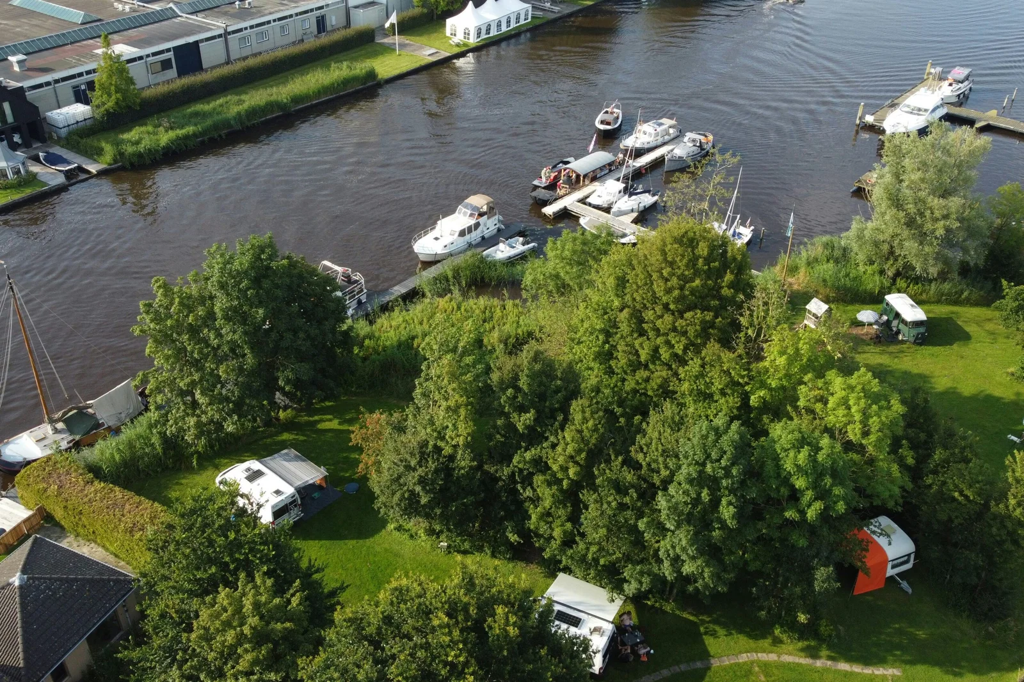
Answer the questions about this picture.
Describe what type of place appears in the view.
port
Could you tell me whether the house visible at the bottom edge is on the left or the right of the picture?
left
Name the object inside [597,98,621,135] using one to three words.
boat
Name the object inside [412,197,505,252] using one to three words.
boat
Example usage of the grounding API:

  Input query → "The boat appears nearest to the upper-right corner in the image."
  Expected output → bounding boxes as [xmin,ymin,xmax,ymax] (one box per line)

[943,65,980,100]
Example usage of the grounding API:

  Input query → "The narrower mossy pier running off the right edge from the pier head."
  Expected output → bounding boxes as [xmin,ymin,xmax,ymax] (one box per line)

[948,107,1024,136]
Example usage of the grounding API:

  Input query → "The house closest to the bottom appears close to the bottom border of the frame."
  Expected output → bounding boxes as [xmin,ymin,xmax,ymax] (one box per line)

[0,538,134,682]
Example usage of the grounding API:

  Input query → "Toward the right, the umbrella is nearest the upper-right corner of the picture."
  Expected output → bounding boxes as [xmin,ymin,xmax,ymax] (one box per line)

[860,306,886,333]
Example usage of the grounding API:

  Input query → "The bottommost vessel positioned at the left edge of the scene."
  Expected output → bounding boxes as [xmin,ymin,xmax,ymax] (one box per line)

[0,285,153,478]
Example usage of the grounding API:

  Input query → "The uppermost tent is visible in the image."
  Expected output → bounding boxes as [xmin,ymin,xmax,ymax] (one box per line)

[450,0,532,42]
